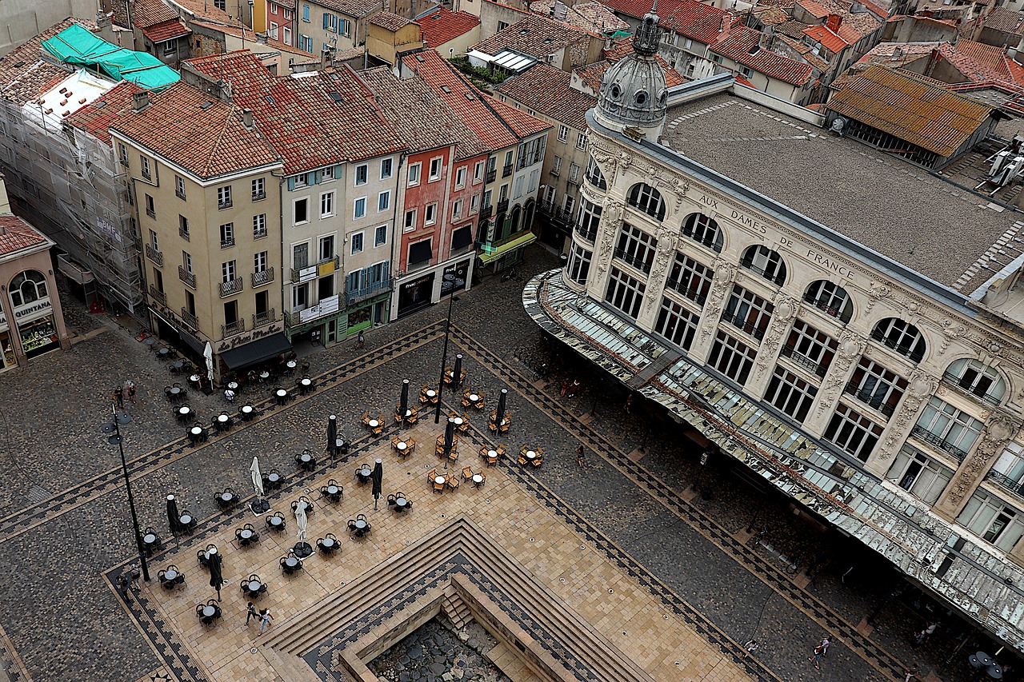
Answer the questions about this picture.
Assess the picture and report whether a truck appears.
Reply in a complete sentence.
No, no truck can be seen from above.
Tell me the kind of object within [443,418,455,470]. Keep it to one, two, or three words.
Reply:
umbrella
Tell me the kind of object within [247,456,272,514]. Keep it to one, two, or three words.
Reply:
umbrella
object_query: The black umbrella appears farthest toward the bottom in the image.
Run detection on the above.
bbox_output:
[210,548,224,603]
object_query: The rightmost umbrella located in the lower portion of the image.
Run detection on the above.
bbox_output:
[495,390,507,436]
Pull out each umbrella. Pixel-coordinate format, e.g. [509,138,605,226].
[201,341,224,396]
[210,548,224,603]
[443,418,455,470]
[399,379,410,430]
[371,459,382,512]
[495,390,507,436]
[166,495,180,550]
[327,416,338,468]
[452,350,462,392]
[247,456,272,514]
[291,499,314,559]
